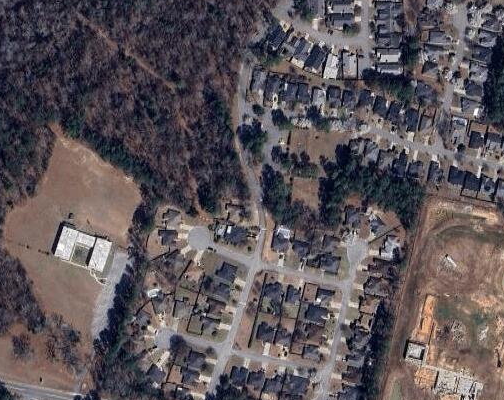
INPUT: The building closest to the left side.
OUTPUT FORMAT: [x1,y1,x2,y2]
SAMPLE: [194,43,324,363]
[55,226,112,273]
